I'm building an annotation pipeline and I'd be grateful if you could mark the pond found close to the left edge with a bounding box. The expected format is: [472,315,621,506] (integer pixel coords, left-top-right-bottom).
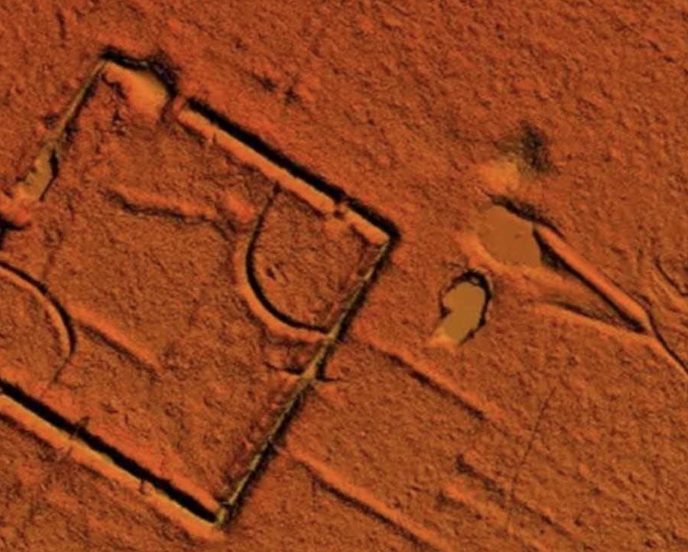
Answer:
[20,141,58,204]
